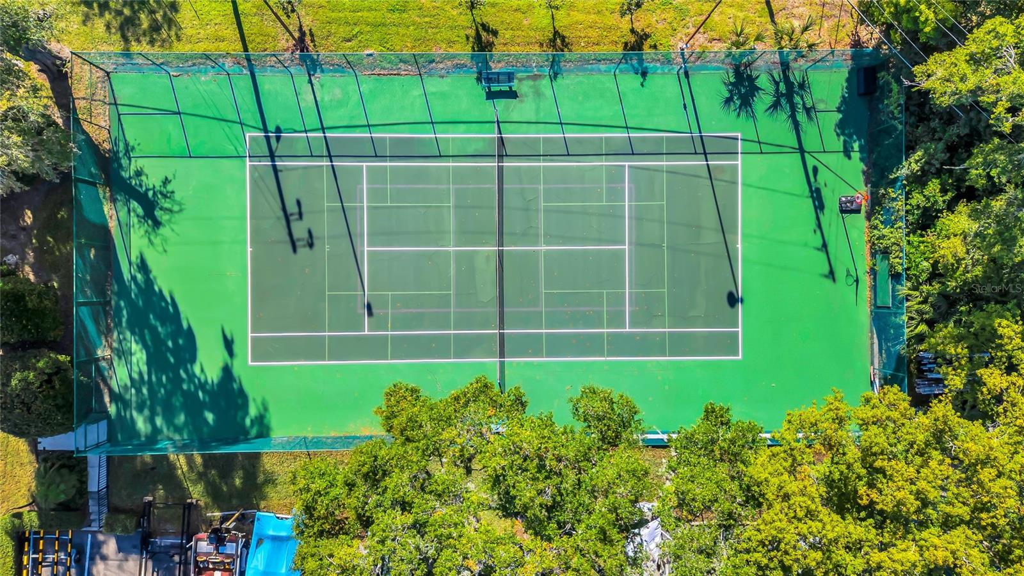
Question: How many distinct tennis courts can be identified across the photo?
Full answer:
My tally gives 1 tennis court in this photo.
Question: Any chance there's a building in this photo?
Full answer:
No, the picture doesn't show any building.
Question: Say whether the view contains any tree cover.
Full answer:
Yes, the picture does contain tree cover.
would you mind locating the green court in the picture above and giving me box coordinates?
[106,64,871,443]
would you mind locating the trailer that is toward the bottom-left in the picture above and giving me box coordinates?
[133,495,197,576]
